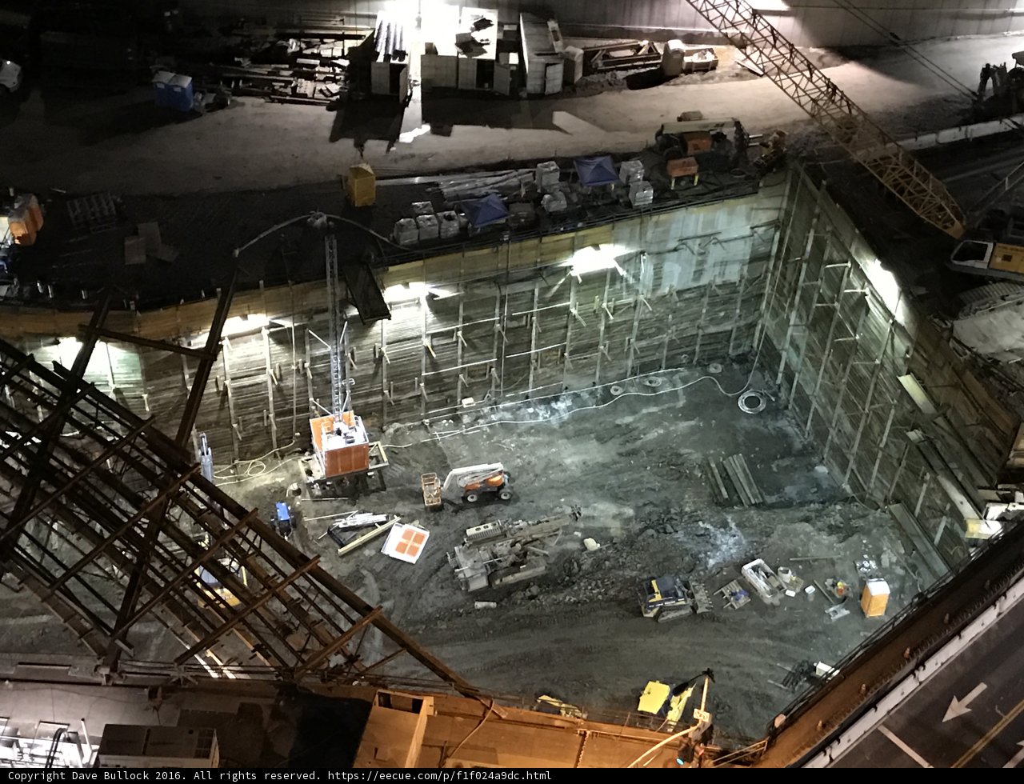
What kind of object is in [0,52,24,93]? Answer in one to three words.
truck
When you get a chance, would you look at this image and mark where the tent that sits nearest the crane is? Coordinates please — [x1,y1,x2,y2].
[572,156,619,208]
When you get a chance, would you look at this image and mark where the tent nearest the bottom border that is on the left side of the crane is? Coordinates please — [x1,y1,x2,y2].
[462,198,510,254]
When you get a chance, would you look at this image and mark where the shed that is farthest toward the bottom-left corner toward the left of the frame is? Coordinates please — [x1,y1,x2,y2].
[355,690,440,784]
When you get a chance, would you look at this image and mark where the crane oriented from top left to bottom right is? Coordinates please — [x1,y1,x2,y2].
[683,0,1024,329]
